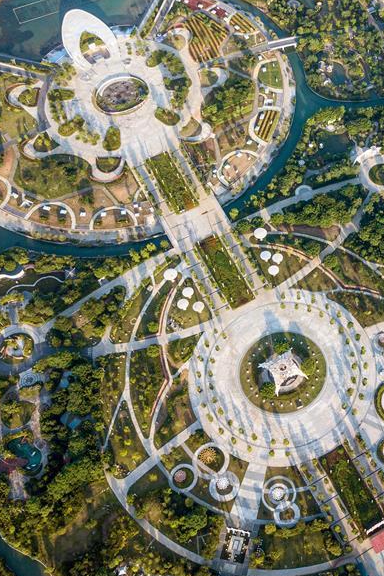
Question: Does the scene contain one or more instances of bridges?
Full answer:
Yes, I can see a bridge in this picture.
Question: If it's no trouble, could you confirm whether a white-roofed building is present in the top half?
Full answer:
Yes, you'll find a white-roofed building in the top half.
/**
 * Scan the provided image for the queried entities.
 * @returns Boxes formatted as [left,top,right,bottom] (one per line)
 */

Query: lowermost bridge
[166,196,235,255]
